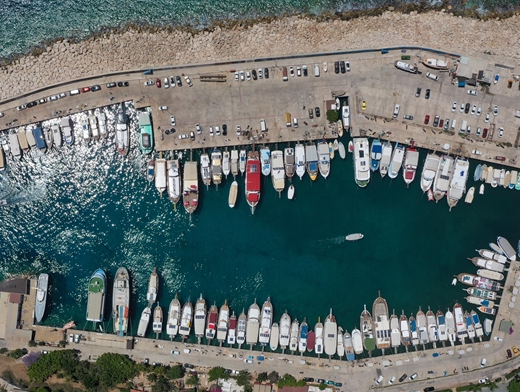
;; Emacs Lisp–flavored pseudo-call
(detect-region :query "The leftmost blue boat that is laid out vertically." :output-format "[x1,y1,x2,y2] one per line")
[31,124,47,153]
